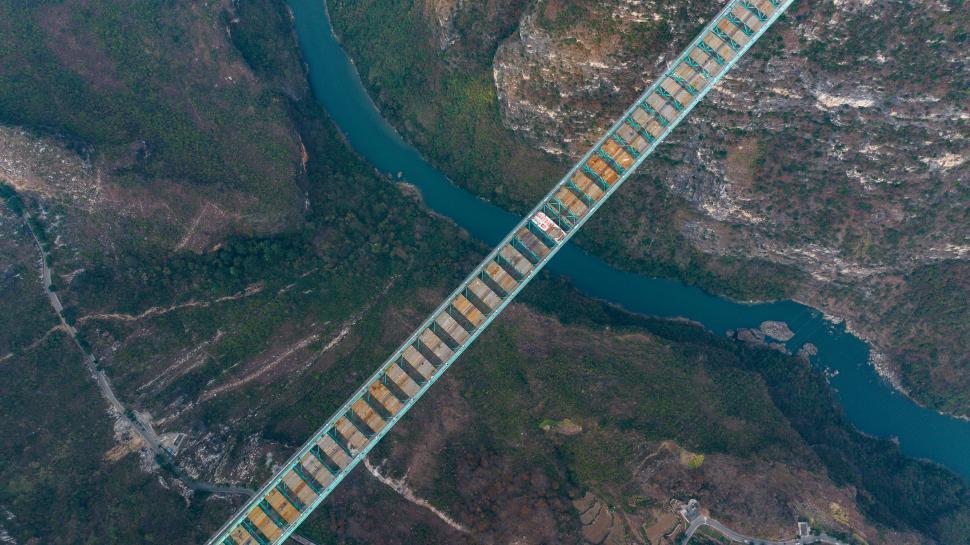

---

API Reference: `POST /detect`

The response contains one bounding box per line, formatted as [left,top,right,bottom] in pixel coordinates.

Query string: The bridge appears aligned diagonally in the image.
[203,0,795,545]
